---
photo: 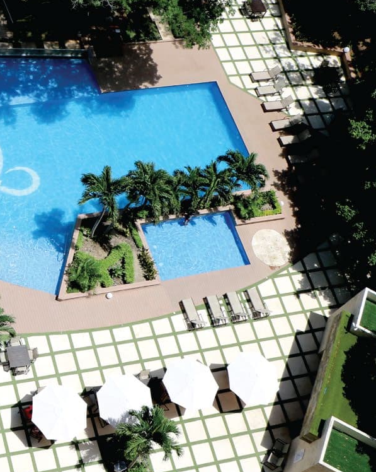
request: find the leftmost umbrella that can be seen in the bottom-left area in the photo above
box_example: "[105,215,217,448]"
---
[27,387,85,444]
